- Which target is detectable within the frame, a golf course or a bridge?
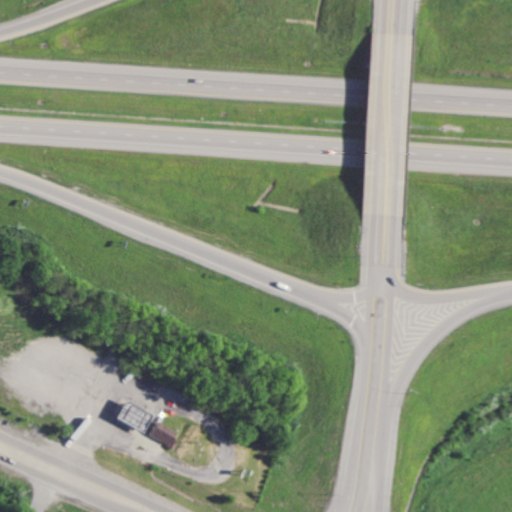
bridge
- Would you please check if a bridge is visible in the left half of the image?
No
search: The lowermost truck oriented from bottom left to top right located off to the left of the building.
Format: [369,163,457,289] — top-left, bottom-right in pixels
[65,414,92,448]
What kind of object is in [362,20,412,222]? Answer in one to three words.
bridge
